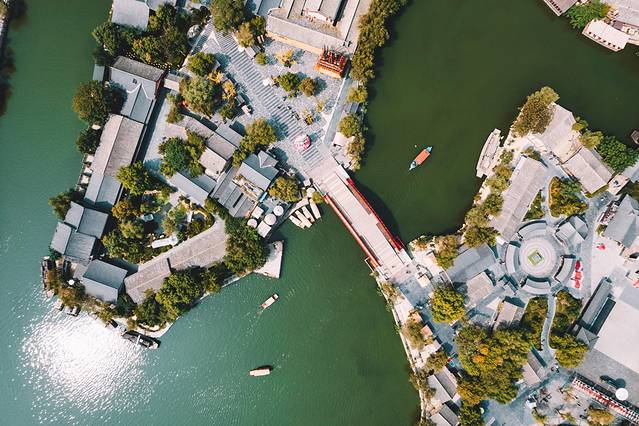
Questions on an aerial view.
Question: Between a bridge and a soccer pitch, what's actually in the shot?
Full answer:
There is a bridge in the scene.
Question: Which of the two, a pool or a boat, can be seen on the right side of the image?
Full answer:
You can see a boat on the right side of the image.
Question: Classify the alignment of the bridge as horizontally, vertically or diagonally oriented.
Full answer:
The bridge is laid out diagonally.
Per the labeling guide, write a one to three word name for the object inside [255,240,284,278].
pier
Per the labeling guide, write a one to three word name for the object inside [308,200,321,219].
boat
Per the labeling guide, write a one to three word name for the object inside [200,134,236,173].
house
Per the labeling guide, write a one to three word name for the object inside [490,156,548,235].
building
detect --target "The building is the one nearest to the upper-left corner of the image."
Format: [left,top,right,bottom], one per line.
[112,0,160,34]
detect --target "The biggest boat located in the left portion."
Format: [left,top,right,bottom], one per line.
[119,329,163,352]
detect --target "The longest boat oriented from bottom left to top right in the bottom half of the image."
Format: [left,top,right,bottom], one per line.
[261,294,278,309]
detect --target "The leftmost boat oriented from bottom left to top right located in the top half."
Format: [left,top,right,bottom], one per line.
[407,147,432,170]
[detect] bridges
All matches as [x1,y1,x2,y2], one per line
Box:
[316,167,411,279]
